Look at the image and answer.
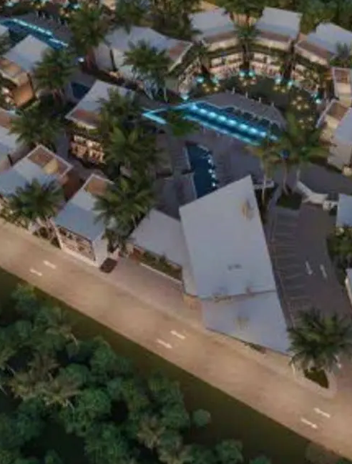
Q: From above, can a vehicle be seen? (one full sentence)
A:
No, I can't see a single vehicle in this photo.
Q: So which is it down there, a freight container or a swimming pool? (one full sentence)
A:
There is a swimming pool in the scene.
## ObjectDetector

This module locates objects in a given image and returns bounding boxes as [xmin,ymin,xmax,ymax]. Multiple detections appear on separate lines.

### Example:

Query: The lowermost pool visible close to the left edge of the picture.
[0,19,72,55]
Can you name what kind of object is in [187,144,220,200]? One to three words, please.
swimming pool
